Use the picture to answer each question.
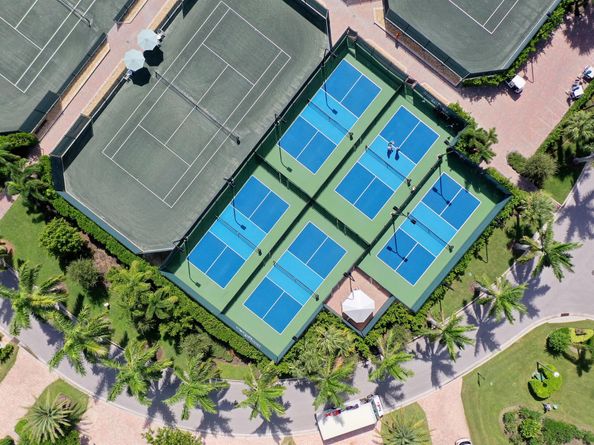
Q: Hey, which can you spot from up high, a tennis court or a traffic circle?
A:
tennis court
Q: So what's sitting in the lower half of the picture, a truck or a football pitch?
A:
truck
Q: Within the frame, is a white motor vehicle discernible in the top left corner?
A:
No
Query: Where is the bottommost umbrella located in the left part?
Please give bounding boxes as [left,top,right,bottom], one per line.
[124,49,146,71]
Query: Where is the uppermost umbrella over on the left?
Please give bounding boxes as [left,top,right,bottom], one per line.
[137,29,158,51]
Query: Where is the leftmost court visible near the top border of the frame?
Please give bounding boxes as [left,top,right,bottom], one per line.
[0,0,128,135]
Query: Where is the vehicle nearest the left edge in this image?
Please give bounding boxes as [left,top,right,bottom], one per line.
[312,393,389,442]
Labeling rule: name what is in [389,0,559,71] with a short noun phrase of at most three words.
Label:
tennis court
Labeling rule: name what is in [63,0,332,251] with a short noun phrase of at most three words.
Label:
tennis court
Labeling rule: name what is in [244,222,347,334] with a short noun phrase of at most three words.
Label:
sports court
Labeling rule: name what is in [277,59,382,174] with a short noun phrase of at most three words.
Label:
sports court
